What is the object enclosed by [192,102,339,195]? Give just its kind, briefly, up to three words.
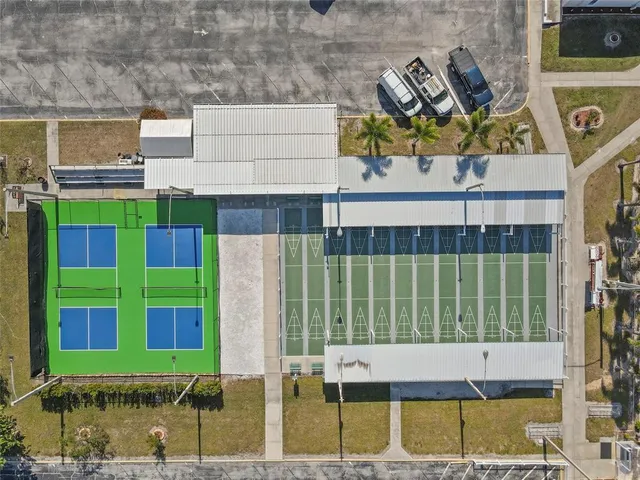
building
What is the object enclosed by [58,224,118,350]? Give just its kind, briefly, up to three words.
sports court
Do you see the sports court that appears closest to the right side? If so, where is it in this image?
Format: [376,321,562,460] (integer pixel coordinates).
[145,224,204,350]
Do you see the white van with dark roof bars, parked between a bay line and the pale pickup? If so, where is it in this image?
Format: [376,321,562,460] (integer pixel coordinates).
[378,67,419,114]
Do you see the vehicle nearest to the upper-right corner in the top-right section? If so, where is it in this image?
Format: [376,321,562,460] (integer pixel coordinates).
[446,44,491,106]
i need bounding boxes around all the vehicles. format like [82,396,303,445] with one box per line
[404,56,452,114]
[446,44,491,106]
[378,67,419,114]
